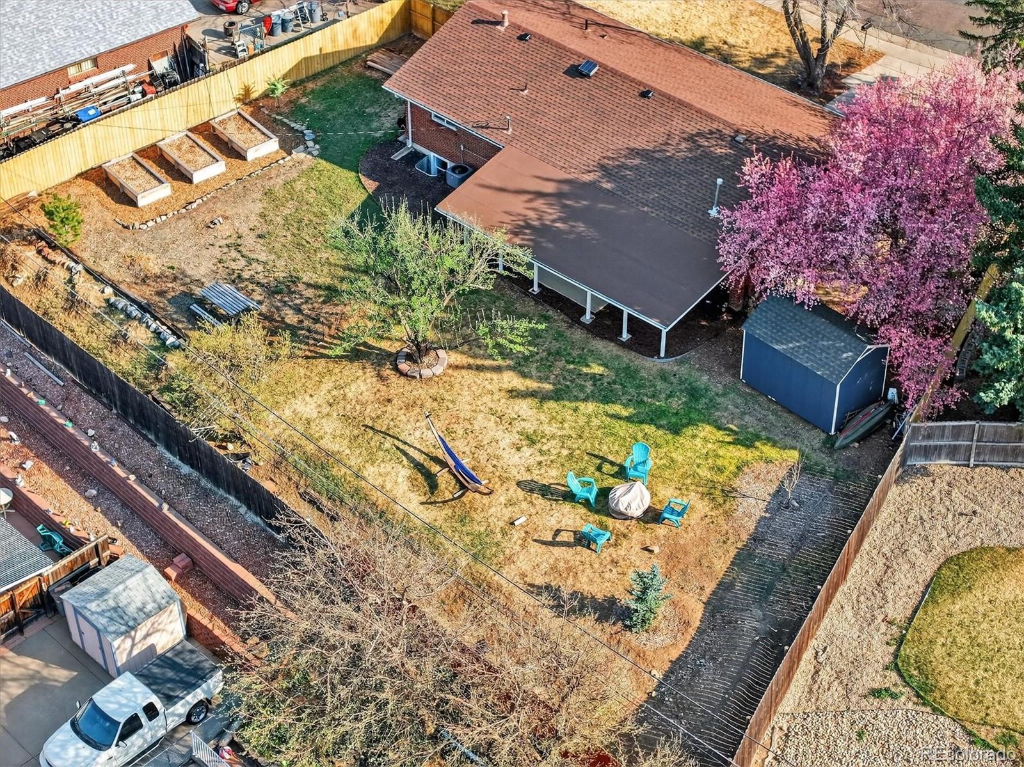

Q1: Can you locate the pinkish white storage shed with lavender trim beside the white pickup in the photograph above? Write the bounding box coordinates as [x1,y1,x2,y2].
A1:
[62,564,186,678]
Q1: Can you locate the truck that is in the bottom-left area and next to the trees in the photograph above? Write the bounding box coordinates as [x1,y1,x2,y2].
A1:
[33,640,232,767]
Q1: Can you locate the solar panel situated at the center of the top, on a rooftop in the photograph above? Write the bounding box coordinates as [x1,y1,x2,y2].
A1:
[574,56,598,73]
